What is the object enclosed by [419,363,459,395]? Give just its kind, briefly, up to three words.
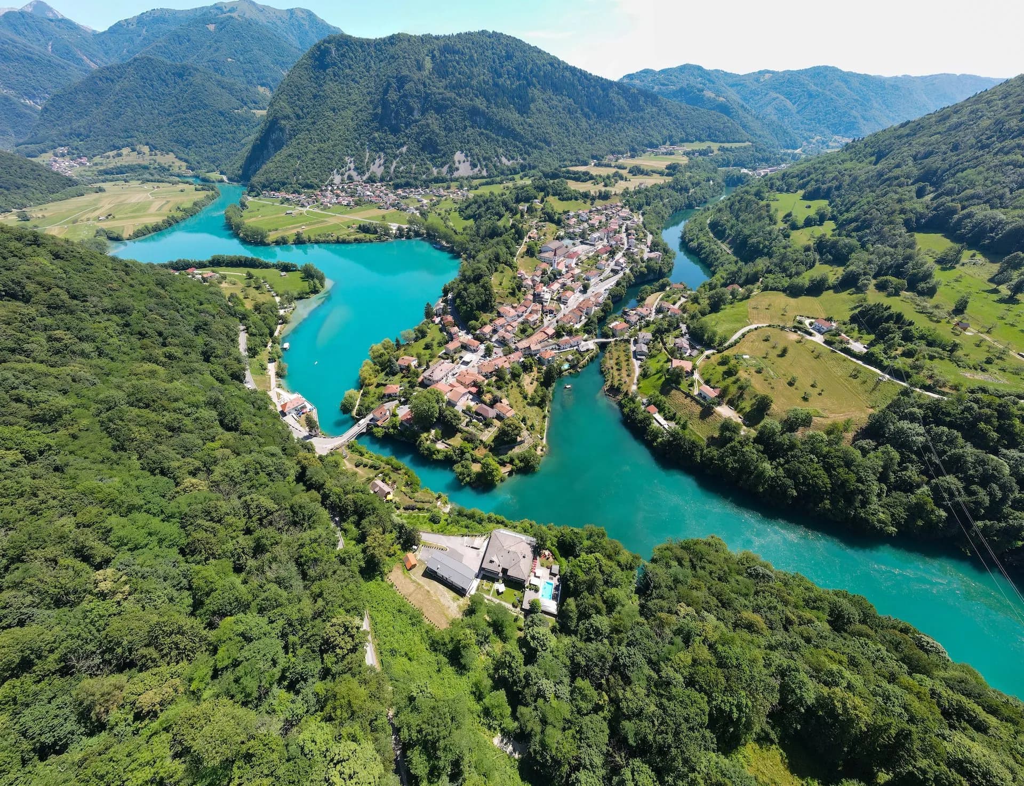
house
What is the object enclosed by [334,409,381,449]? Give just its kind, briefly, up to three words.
bridge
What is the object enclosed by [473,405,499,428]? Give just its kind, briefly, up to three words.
house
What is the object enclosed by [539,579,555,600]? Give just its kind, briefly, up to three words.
swimming pool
